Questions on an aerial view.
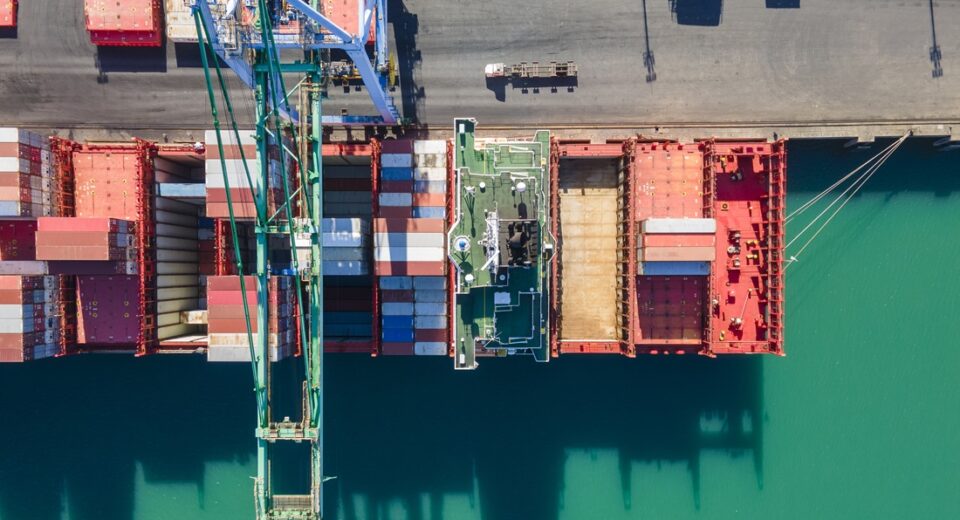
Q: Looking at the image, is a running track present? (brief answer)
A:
No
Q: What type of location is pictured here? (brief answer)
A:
port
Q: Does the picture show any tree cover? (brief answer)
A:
No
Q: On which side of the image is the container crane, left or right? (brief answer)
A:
left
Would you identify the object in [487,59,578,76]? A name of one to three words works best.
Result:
vehicle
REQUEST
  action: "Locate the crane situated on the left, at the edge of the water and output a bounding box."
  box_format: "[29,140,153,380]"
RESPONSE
[189,0,403,520]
